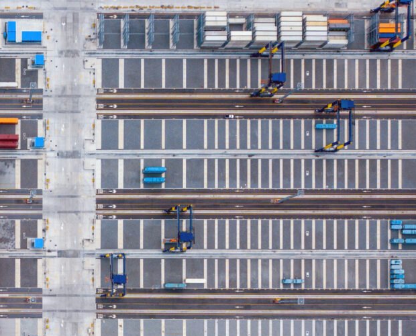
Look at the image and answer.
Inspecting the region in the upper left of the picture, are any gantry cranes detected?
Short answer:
No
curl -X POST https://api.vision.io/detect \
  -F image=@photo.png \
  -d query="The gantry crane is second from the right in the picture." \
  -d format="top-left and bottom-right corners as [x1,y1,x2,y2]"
[314,100,355,151]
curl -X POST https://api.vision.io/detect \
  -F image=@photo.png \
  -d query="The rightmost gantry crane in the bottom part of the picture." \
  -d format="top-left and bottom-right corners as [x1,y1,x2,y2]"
[162,206,195,252]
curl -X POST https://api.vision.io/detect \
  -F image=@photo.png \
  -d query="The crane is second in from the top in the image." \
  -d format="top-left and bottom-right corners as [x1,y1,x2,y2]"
[250,41,287,96]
